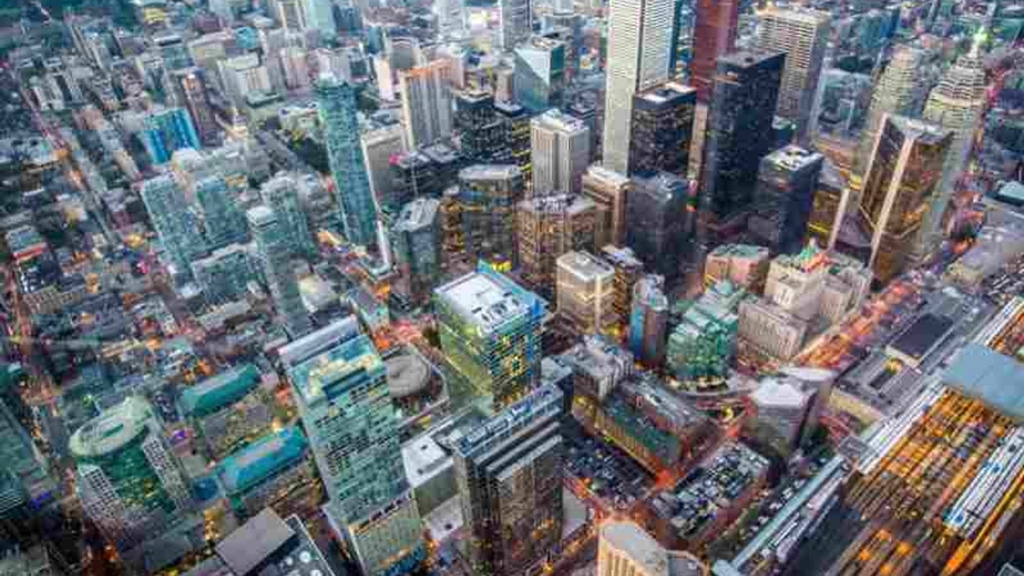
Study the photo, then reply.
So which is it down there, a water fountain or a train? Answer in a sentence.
I can see a train in this picture.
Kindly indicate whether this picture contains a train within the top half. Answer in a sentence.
No, I see no train within the top half.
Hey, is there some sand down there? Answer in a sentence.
No, sand can't be seen anywhere here.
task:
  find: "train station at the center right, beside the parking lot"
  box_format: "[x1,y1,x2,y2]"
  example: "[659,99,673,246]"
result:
[817,231,1024,433]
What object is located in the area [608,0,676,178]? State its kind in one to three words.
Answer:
building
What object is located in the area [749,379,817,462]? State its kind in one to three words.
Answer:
building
